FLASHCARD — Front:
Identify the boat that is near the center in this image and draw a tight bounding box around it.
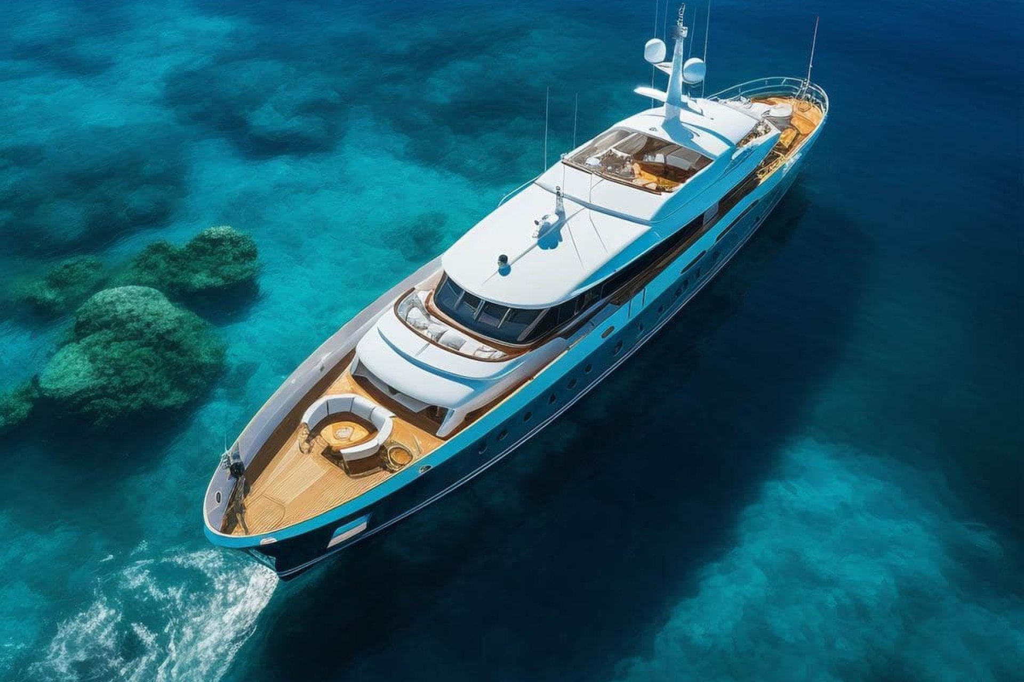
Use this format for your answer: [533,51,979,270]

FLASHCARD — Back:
[201,0,837,579]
